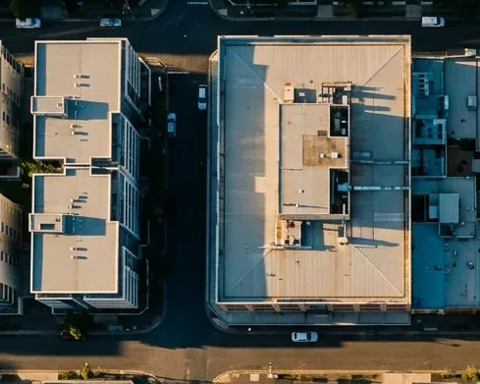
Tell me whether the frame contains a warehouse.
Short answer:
Yes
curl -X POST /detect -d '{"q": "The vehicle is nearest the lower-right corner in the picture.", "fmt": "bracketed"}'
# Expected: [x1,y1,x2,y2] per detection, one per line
[292,331,319,343]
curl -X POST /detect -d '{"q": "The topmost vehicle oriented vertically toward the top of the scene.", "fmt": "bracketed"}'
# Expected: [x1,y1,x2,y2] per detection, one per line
[195,83,208,111]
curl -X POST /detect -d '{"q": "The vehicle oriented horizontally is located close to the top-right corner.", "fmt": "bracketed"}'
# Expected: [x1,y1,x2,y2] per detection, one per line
[418,14,448,29]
